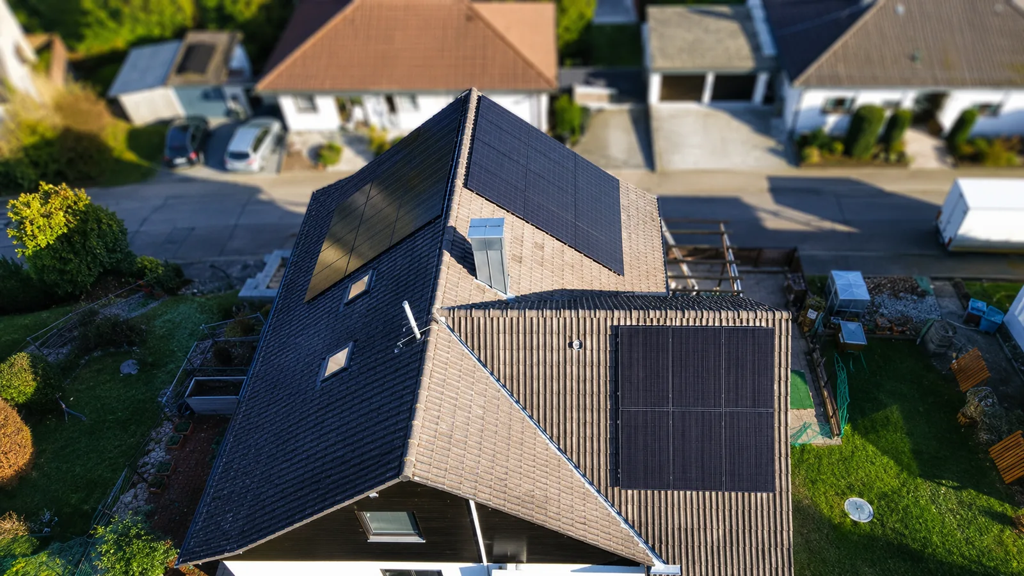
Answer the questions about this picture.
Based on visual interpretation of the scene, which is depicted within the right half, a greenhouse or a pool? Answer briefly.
greenhouse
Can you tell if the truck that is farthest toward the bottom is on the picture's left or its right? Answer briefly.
right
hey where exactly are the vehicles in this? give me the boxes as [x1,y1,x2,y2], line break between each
[170,108,228,160]
[225,107,290,169]
[929,173,1024,264]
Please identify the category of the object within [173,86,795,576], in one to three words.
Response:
house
